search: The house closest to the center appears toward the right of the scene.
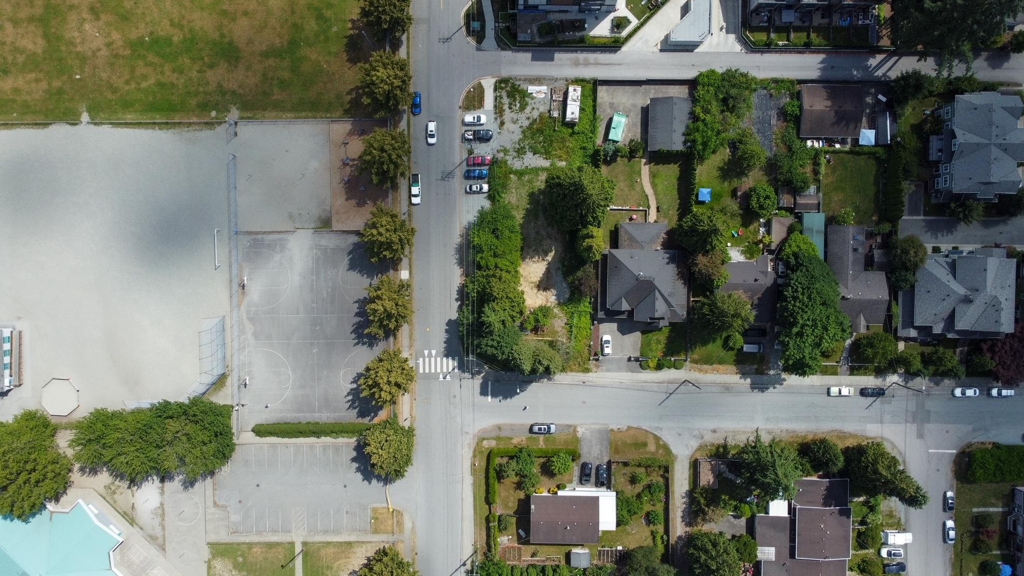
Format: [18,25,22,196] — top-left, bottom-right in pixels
[598,223,687,326]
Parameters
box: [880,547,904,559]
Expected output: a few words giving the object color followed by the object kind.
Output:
white vehicle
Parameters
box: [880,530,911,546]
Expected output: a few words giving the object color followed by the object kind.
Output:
white vehicle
